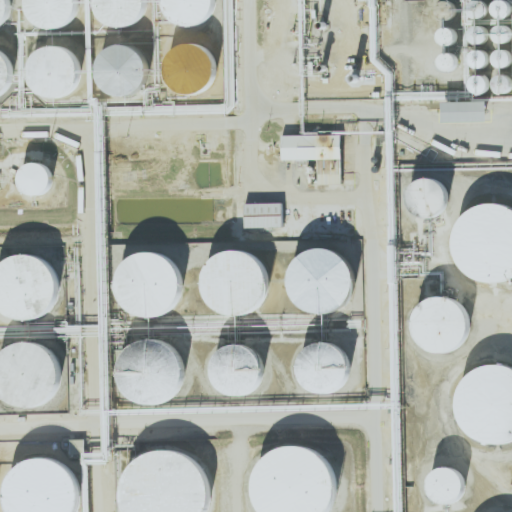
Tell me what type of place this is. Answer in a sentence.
This looks like an industrial area.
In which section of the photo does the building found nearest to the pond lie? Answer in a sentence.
The building found nearest to the pond is located in the center region of the scene.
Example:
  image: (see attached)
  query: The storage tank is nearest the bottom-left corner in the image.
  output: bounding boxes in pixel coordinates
[2,456,82,512]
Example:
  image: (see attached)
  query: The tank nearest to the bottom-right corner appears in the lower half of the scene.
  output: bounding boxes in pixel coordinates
[424,466,468,506]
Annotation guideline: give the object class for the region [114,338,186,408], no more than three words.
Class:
storage tank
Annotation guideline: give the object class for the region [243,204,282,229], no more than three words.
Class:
building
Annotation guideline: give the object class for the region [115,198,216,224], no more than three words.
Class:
pond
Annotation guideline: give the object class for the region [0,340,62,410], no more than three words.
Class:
storage tank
